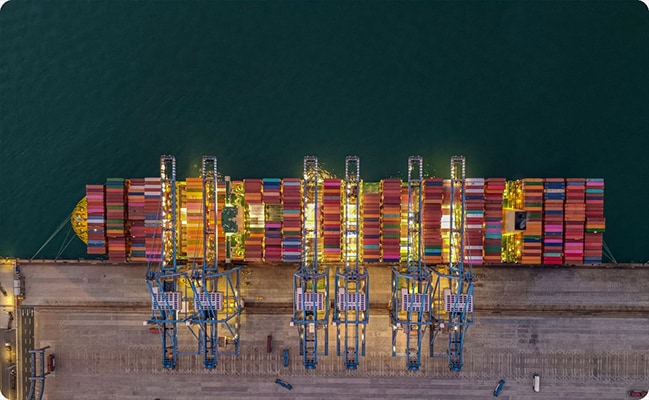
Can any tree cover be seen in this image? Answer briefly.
No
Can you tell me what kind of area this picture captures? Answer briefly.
port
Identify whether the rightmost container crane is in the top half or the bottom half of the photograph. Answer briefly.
bottom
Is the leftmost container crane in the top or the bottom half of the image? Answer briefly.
bottom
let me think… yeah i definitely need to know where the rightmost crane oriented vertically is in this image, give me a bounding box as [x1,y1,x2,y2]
[423,154,480,374]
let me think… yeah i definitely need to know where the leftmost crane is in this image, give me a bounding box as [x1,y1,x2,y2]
[143,153,207,372]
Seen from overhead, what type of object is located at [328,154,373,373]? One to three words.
container crane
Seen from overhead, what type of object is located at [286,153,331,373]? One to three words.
container crane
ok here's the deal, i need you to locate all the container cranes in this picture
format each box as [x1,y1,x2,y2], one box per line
[184,153,245,373]
[286,153,331,373]
[143,153,207,372]
[423,154,480,374]
[328,154,373,373]
[383,154,436,373]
